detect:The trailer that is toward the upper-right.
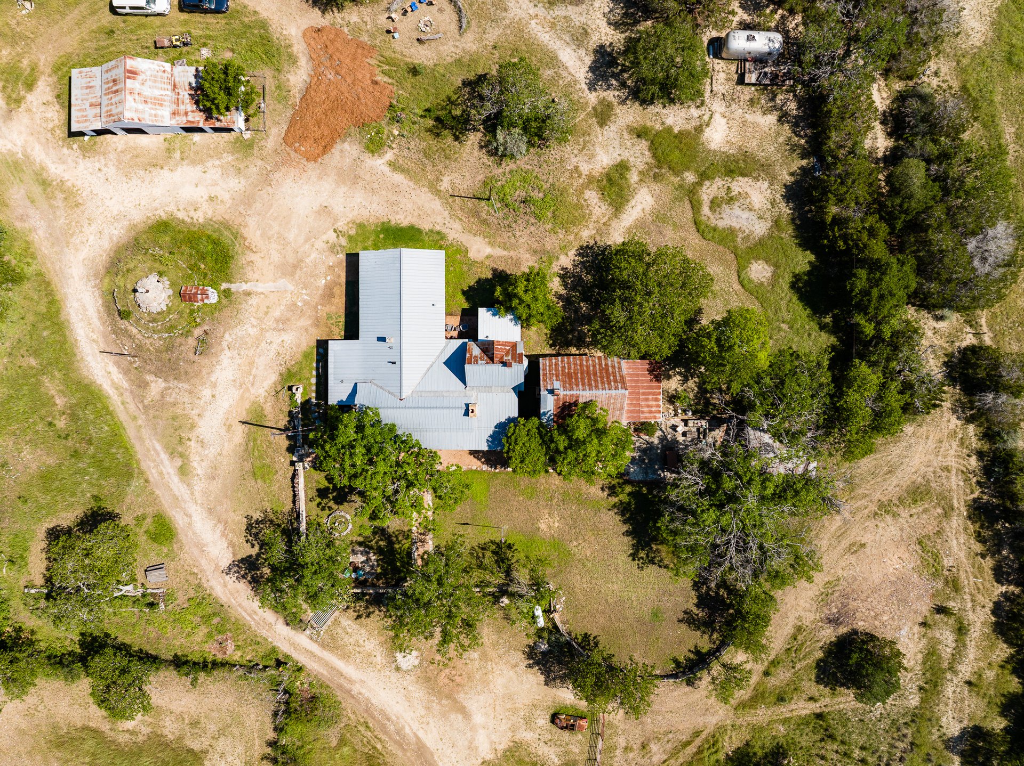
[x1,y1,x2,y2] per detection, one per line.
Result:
[704,29,785,64]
